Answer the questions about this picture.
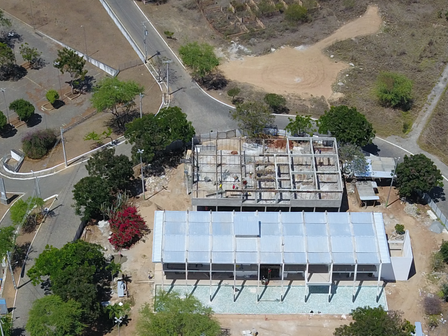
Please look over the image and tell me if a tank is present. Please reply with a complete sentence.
No, the picture doesn't show any tank.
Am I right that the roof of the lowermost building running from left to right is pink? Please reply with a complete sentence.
No, the color of the roof of the lowermost building running from left to right is white.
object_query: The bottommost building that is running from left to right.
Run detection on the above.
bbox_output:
[152,208,413,304]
